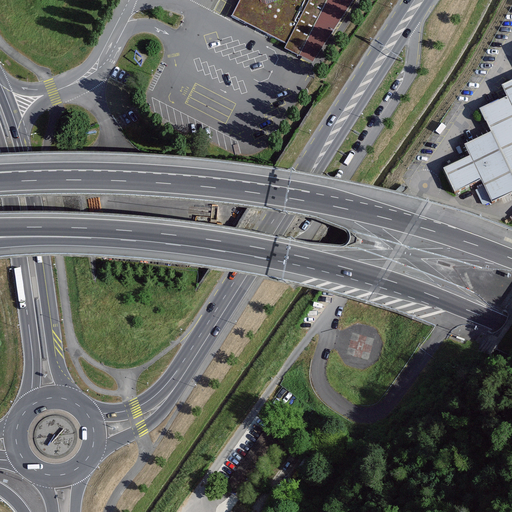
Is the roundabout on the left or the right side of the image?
left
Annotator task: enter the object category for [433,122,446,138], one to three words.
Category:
vehicle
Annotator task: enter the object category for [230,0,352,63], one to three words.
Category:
building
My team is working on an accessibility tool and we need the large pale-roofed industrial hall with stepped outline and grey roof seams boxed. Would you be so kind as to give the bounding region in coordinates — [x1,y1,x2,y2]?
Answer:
[442,79,512,203]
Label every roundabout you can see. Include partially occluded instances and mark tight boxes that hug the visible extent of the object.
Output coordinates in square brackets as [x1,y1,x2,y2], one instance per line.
[0,384,134,512]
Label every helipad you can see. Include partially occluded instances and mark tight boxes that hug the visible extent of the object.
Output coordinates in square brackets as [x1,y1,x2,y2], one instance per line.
[333,323,383,369]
